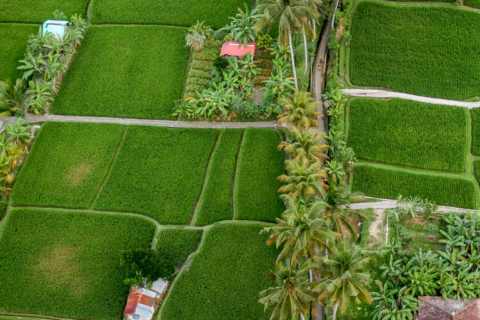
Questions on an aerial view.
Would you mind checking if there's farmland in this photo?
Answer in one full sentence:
Yes, farmland can be seen from above here.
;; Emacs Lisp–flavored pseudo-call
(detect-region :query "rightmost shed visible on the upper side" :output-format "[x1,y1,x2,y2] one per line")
[221,41,256,65]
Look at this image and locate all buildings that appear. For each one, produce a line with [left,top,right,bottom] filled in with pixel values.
[124,287,161,320]
[221,41,256,65]
[43,20,68,47]
[419,295,480,320]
